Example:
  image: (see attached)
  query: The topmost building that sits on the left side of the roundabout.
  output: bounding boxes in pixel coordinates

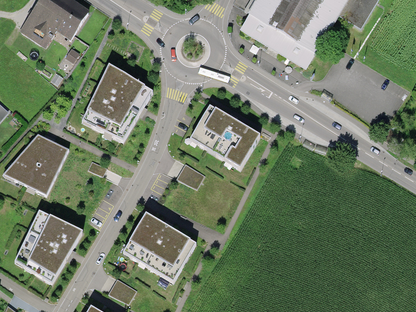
[21,0,88,49]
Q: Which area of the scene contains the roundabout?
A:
top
